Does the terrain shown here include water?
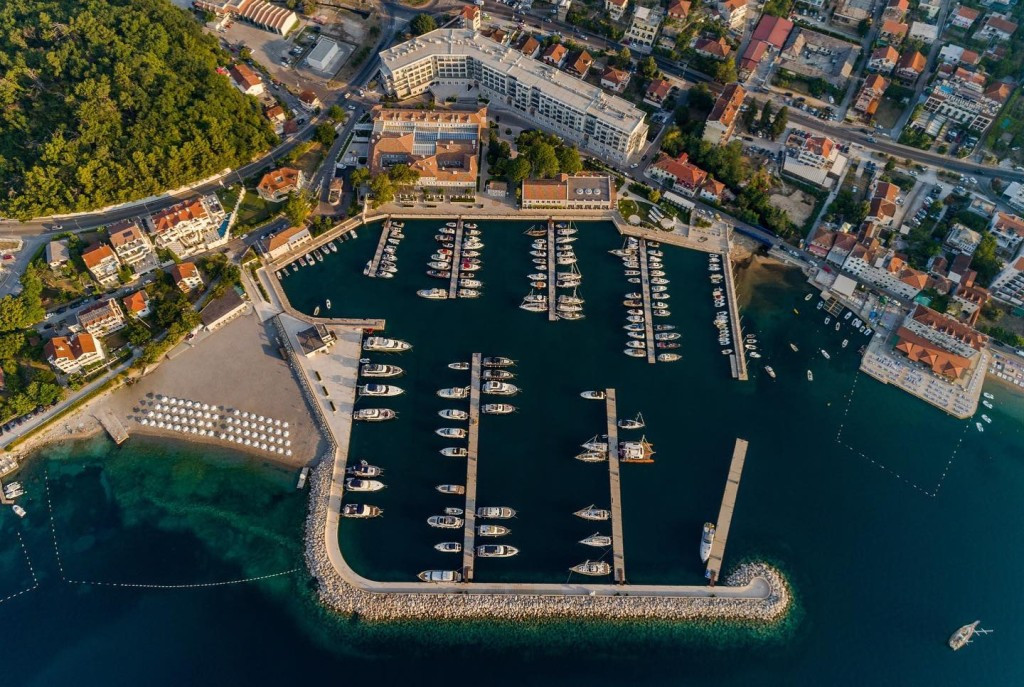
Yes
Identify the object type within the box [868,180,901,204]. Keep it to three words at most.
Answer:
house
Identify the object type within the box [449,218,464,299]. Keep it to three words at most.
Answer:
pier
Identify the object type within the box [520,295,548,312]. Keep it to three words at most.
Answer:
boat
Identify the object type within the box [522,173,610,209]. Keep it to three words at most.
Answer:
building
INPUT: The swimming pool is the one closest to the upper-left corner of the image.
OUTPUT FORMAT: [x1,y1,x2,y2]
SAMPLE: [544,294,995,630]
[216,212,230,239]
